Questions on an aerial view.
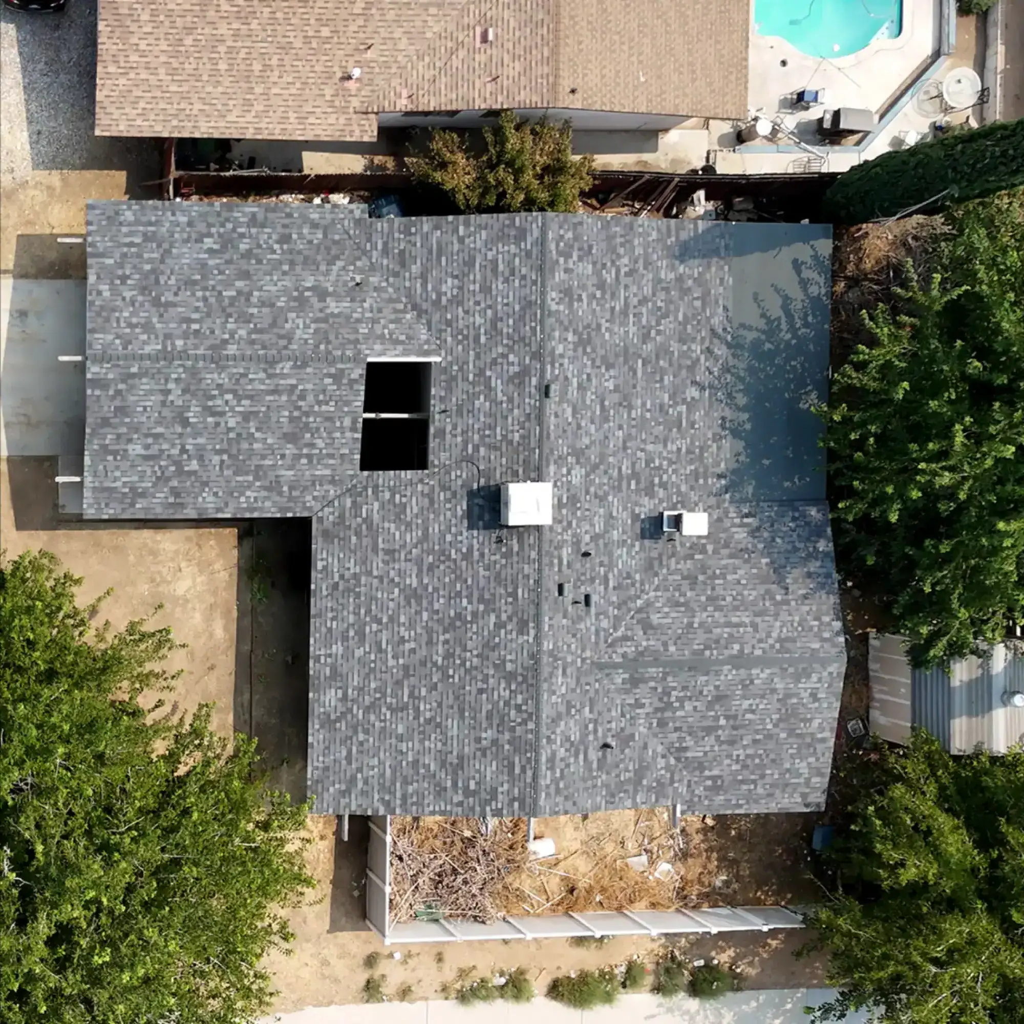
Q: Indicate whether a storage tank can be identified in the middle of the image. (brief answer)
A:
No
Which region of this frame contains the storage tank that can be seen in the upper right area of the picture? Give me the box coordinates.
[735,111,771,145]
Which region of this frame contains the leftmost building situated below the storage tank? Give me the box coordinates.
[57,201,848,845]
